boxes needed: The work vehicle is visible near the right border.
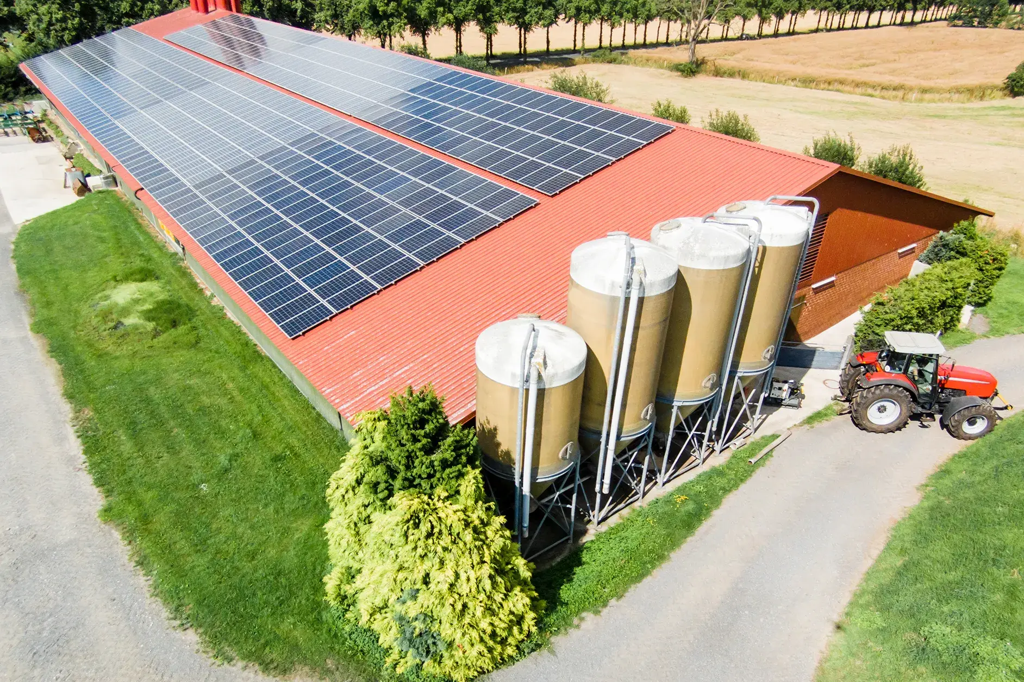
[823,331,1012,441]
